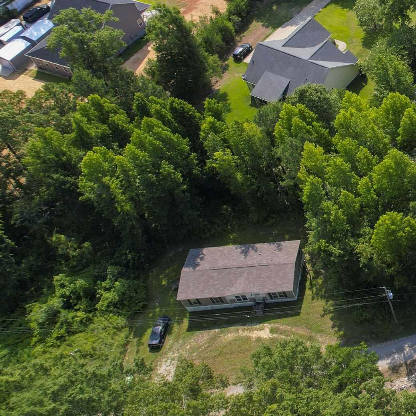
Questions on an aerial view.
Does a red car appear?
No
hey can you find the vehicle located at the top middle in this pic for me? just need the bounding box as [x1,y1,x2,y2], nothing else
[230,43,254,62]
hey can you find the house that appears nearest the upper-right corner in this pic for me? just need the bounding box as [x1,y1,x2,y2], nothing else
[240,17,361,114]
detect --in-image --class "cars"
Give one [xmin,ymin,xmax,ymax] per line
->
[230,43,254,62]
[22,5,50,24]
[149,319,169,350]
